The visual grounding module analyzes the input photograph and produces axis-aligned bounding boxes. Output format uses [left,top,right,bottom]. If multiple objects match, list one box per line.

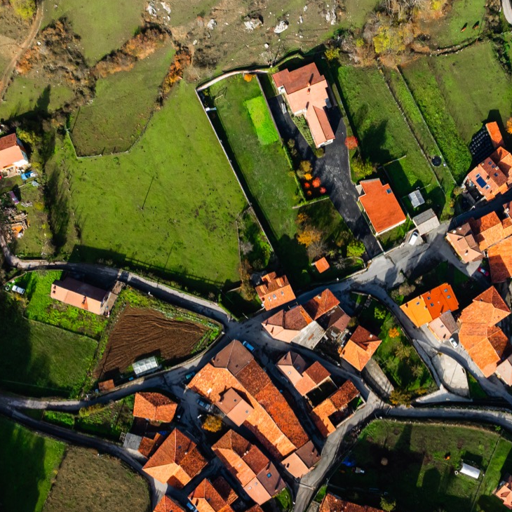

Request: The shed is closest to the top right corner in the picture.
[483,122,504,152]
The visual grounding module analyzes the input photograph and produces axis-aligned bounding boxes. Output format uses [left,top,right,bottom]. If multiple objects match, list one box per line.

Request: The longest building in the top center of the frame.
[272,62,334,152]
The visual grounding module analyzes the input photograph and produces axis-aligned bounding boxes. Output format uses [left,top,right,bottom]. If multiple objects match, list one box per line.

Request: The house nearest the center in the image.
[255,273,295,312]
